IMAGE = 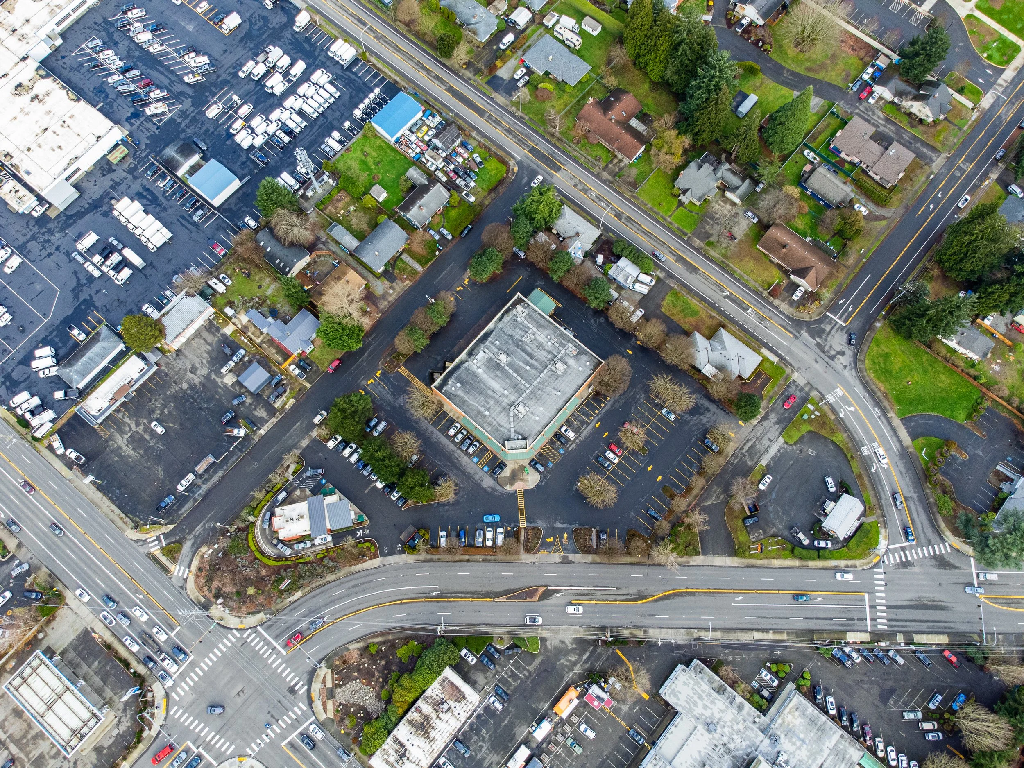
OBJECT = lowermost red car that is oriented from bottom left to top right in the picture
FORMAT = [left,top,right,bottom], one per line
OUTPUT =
[155,744,172,764]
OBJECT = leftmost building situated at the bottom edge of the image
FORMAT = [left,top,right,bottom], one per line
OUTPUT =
[369,666,483,768]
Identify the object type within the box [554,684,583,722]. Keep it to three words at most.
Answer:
truck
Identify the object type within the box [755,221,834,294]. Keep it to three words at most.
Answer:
house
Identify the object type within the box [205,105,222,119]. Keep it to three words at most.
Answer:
vehicle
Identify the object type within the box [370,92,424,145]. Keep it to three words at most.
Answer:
building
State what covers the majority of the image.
paved ground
